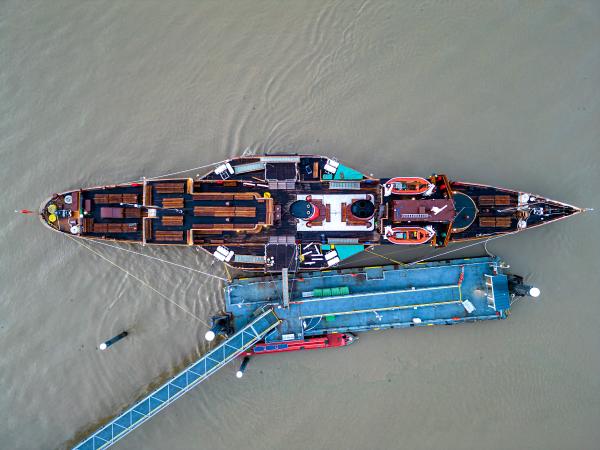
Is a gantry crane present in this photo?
No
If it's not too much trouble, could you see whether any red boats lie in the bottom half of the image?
Yes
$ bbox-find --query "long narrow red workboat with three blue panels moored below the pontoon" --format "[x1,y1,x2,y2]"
[238,333,360,356]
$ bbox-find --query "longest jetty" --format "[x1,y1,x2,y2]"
[212,255,526,344]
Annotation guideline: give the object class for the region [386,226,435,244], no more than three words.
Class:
boat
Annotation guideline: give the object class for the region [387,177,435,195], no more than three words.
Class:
boat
